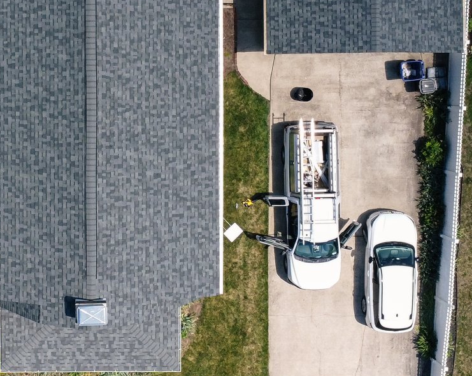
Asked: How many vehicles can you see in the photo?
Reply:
2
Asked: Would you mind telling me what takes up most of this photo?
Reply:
buildings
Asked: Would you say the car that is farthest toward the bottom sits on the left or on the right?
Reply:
right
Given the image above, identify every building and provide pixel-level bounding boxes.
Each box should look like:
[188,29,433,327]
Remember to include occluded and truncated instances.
[0,0,223,373]
[262,0,468,53]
